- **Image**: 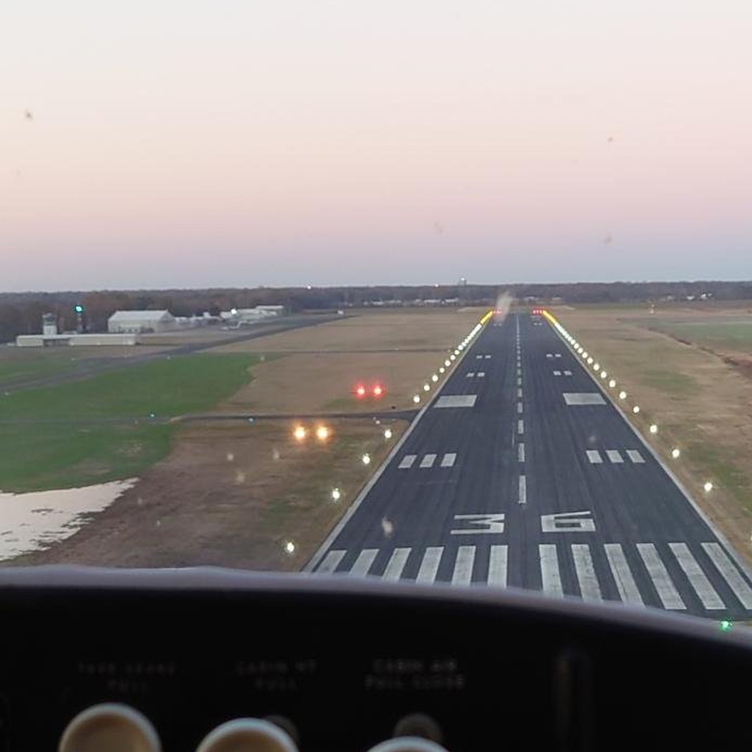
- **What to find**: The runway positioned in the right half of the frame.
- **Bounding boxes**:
[296,311,752,623]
